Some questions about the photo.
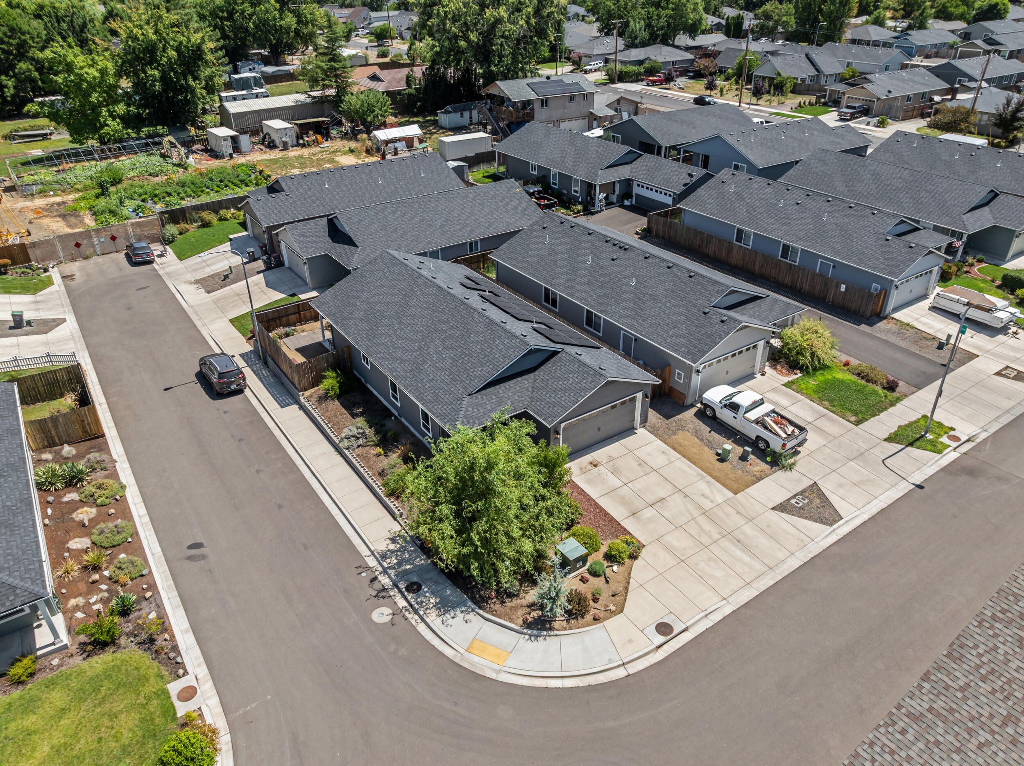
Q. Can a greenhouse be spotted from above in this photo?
Yes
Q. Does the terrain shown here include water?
No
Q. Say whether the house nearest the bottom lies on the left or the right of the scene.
right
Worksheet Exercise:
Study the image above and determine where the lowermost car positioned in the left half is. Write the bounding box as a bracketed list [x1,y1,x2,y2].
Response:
[195,351,247,399]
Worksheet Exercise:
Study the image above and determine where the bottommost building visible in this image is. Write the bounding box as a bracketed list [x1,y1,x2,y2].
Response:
[841,571,1024,766]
